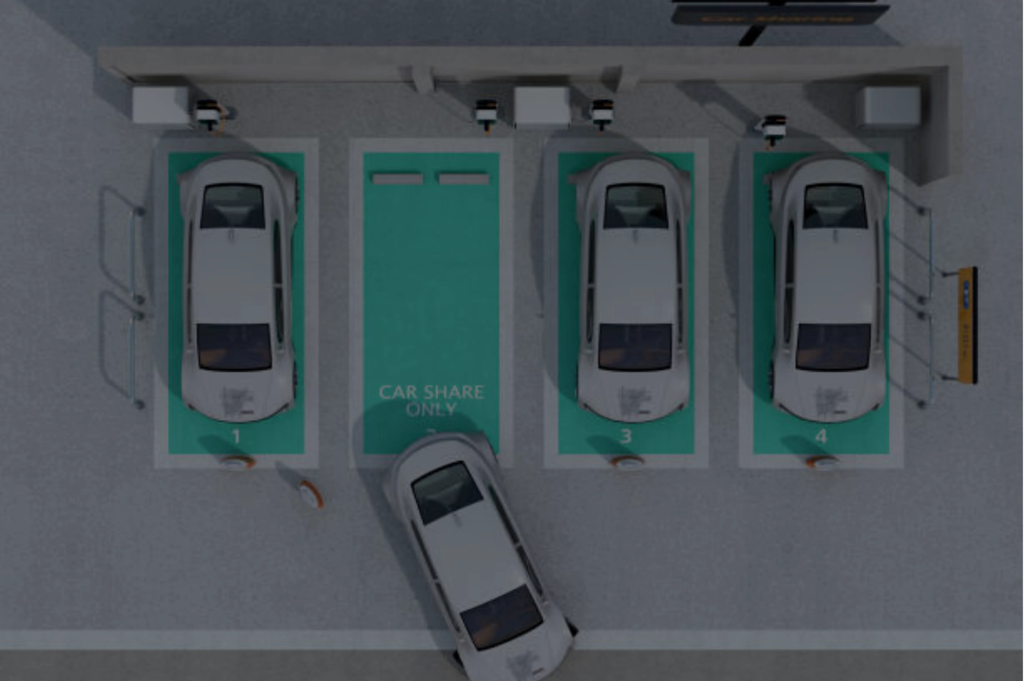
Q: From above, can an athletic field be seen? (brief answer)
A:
No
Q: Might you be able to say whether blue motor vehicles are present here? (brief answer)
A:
No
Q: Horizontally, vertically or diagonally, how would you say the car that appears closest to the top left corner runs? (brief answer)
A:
vertically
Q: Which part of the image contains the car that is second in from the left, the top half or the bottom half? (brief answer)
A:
bottom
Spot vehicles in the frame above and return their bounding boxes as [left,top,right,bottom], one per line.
[182,154,298,424]
[576,154,690,424]
[769,154,886,424]
[381,432,579,681]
